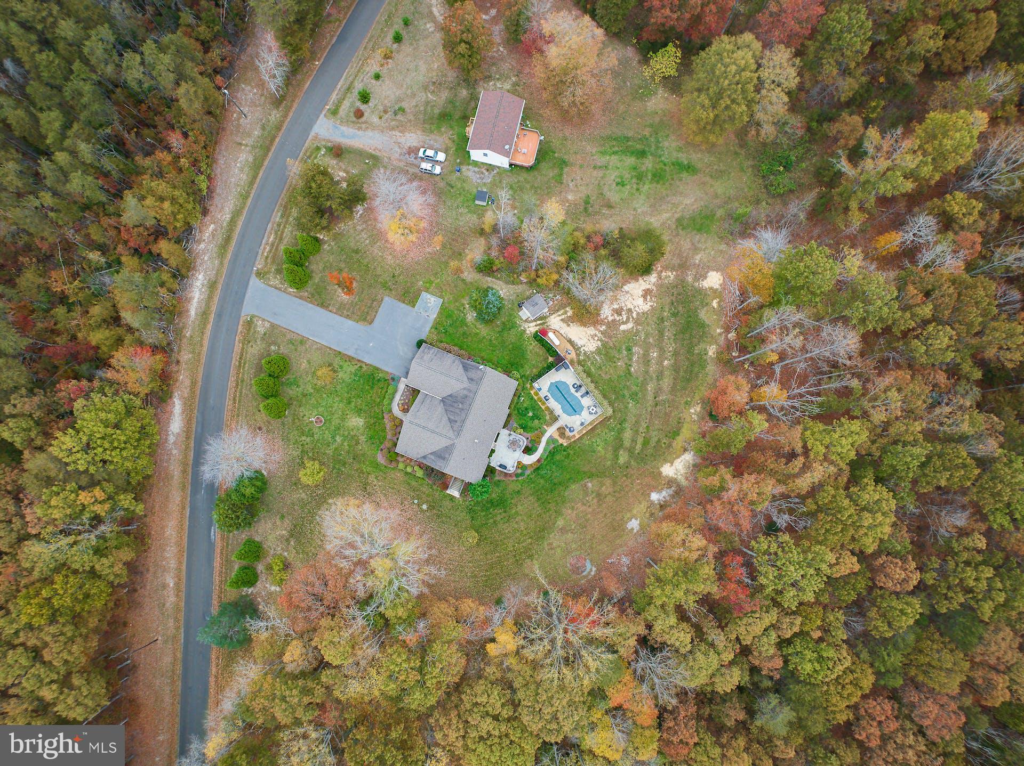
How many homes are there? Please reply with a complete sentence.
I count 2 homes.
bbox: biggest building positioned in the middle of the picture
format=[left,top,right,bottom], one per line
[395,343,519,482]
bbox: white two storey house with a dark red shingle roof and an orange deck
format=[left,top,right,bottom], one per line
[466,88,526,168]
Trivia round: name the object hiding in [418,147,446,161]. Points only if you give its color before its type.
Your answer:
white car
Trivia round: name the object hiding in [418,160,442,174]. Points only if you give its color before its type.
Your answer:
white car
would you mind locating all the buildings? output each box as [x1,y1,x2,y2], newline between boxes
[475,187,488,205]
[466,88,526,168]
[395,343,519,482]
[520,294,548,320]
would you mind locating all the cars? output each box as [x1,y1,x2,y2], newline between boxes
[418,147,446,161]
[418,160,442,174]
